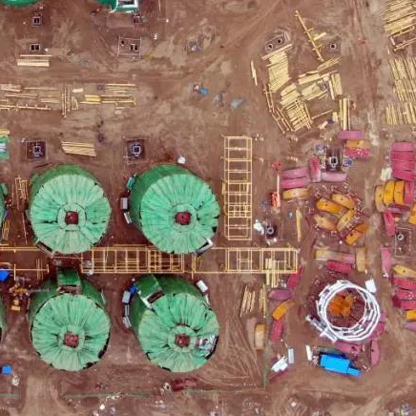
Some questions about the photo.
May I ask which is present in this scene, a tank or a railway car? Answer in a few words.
tank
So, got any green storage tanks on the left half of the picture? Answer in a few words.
Yes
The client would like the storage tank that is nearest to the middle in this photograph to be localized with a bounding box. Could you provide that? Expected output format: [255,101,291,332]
[121,165,221,256]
